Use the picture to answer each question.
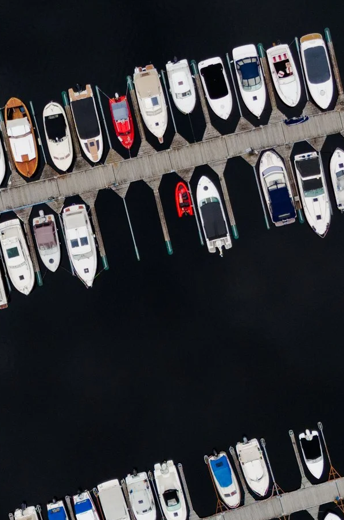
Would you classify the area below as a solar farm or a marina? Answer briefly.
marina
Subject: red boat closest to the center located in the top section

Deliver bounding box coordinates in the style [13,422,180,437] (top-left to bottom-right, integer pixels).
[174,183,193,218]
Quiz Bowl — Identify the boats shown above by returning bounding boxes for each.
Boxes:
[260,152,297,227]
[70,83,104,162]
[266,42,302,107]
[236,433,271,497]
[154,459,186,520]
[44,103,75,170]
[327,148,344,208]
[126,467,156,520]
[196,176,230,255]
[165,55,197,114]
[47,496,71,520]
[0,218,34,294]
[174,183,193,218]
[197,57,233,119]
[5,98,39,177]
[133,65,169,143]
[15,499,42,520]
[299,428,326,480]
[108,93,134,149]
[71,488,102,520]
[62,207,99,288]
[292,153,331,235]
[233,45,267,117]
[298,33,334,109]
[208,447,241,509]
[33,209,62,272]
[97,480,132,520]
